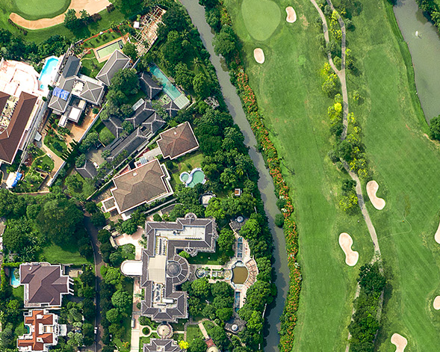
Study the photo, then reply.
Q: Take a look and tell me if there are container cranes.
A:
No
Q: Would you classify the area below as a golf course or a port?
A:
golf course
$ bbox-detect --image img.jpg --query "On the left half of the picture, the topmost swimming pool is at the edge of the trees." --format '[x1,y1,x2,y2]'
[39,55,61,81]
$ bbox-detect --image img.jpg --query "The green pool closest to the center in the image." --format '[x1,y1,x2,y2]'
[181,170,205,186]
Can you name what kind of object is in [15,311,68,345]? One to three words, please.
house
